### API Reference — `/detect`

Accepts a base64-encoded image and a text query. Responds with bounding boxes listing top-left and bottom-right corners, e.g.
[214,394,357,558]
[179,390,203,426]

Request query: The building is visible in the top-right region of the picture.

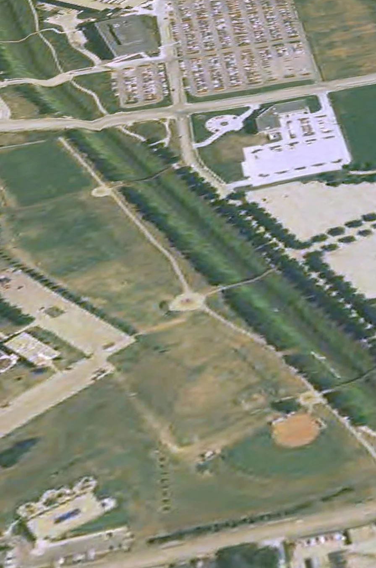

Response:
[259,98,310,134]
